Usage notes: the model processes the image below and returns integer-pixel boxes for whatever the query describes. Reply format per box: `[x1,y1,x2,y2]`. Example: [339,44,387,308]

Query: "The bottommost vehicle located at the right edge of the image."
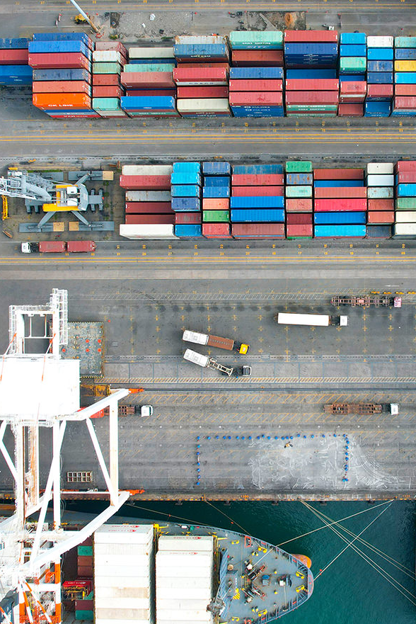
[324,404,403,417]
